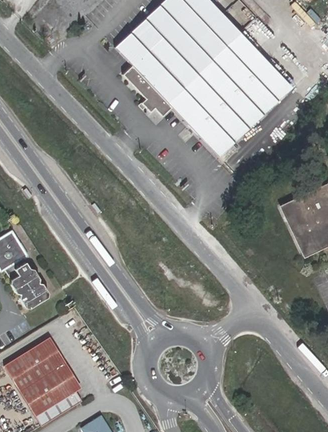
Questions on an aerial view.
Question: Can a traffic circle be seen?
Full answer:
Yes, a traffic circle is visible in the scene.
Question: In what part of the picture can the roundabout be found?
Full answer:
The roundabout is in the bottom part of the image.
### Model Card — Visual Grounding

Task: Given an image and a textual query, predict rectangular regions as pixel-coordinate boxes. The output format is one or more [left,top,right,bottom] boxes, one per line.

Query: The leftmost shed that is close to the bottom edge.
[4,336,88,424]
